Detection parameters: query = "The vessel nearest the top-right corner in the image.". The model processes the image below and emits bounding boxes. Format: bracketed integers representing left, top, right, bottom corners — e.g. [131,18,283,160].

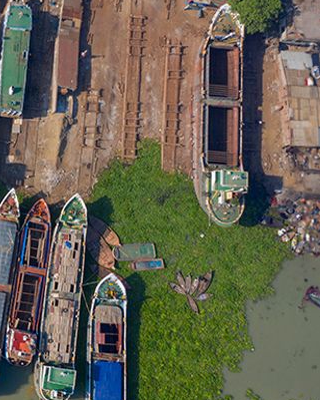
[197,2,249,224]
